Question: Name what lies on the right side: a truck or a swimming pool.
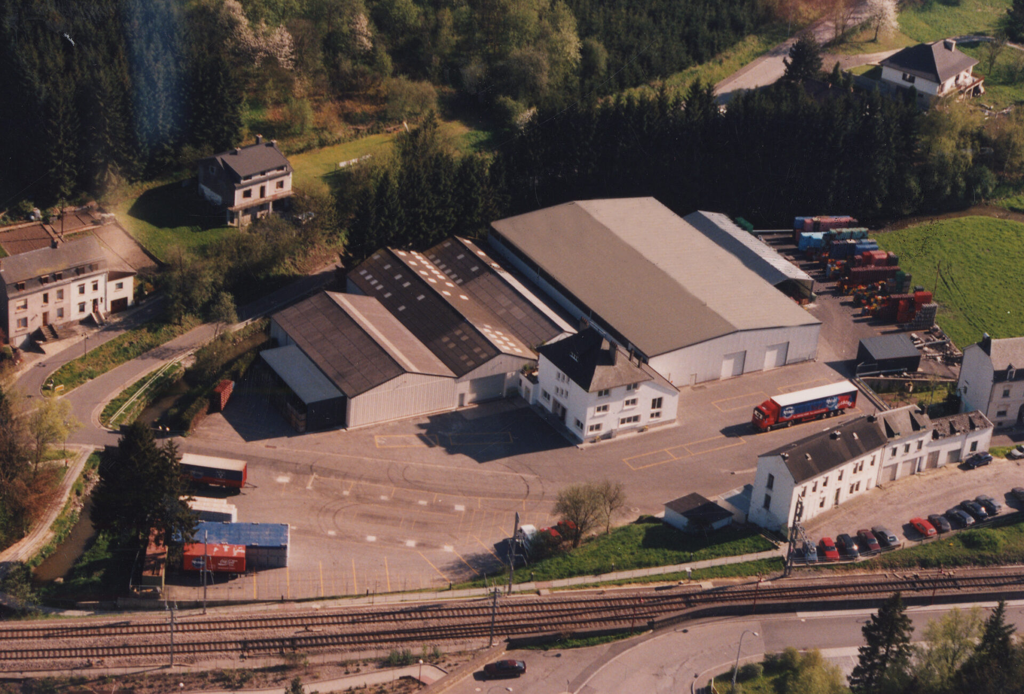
truck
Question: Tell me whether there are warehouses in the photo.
Yes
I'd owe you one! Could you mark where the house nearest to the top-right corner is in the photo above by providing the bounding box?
[879,49,994,118]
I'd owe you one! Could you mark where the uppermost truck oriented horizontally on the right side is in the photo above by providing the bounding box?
[749,379,861,429]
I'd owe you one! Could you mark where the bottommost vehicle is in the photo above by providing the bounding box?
[486,660,526,679]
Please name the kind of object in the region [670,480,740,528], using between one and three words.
shed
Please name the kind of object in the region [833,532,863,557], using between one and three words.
car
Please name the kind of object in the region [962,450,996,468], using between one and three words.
car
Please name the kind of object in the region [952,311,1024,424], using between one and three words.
house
